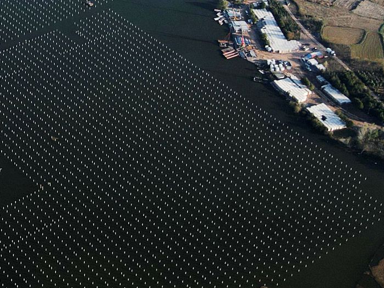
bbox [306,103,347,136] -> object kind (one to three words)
shed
